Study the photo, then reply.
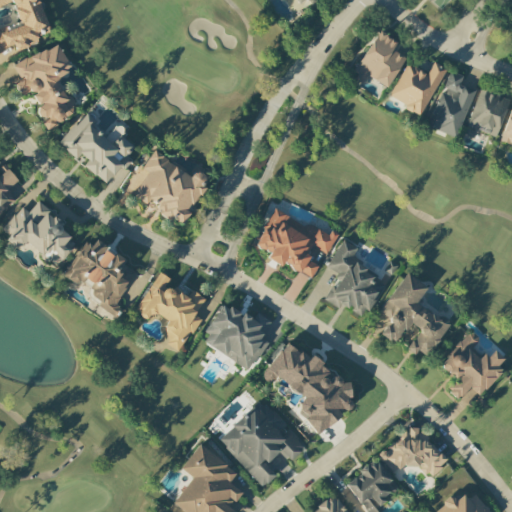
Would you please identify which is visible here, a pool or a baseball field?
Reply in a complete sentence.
This aerial view contains a pool.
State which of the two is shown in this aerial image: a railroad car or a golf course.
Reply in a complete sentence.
I can see a golf course in this picture.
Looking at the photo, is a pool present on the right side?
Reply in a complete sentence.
Yes, I can see a pool on the right side.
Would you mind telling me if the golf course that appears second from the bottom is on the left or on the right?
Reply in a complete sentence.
The golf course that appears second from the bottom is on the right side of the image.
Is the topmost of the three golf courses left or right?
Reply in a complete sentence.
The topmost of the three golf courses sits on the left side.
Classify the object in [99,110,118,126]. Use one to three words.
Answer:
swimming pool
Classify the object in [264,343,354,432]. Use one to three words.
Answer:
house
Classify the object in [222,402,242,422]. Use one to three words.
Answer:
swimming pool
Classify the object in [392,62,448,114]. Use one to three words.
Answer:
house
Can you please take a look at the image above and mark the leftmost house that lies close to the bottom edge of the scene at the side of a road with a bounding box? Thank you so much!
[175,445,244,512]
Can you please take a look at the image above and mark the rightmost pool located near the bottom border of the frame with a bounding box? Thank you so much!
[406,474,426,490]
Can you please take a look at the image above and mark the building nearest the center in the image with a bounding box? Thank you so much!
[258,211,339,277]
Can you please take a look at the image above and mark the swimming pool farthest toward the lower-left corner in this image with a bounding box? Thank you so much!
[161,470,188,493]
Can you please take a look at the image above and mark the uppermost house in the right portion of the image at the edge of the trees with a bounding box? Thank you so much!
[362,32,407,86]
